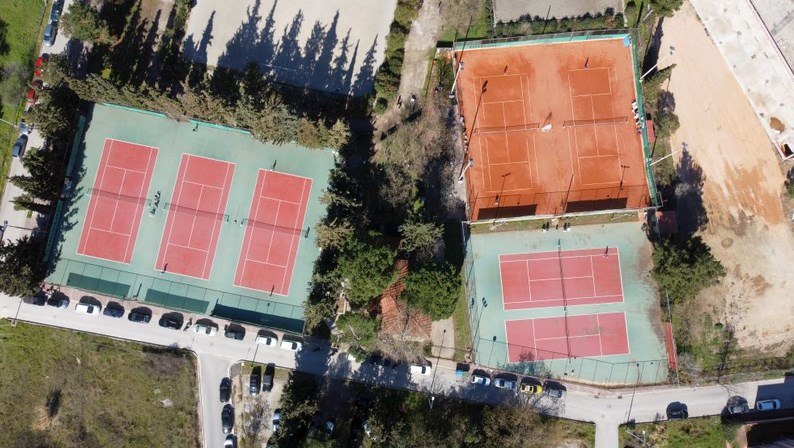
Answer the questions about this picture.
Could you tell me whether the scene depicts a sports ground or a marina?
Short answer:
sports ground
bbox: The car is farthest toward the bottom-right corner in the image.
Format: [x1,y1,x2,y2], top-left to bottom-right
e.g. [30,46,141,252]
[758,399,782,412]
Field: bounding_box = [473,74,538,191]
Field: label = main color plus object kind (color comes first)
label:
orange tennis court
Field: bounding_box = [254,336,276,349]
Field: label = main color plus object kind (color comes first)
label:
white vehicle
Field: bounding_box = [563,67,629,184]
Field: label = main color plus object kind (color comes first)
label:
orange tennis court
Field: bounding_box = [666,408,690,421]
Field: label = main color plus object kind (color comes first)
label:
black vehicle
